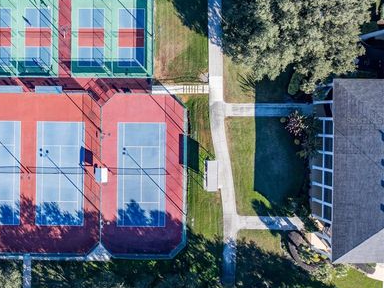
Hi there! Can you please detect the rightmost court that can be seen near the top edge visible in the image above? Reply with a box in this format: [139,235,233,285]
[111,0,151,76]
